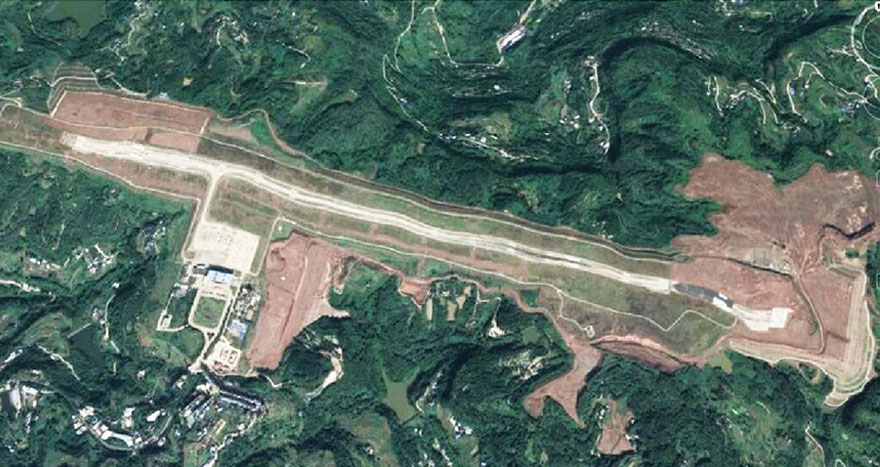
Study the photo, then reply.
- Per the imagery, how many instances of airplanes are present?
0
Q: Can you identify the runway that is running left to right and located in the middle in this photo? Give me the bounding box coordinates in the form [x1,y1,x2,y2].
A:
[59,134,790,331]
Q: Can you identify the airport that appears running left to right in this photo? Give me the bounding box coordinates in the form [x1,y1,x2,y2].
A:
[0,101,790,378]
